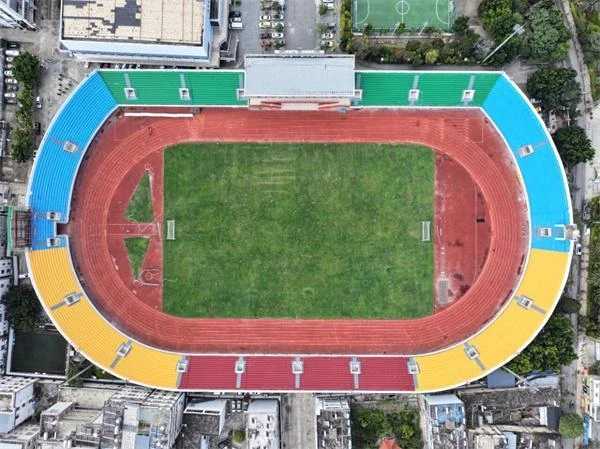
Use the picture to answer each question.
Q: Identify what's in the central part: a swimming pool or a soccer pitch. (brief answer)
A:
soccer pitch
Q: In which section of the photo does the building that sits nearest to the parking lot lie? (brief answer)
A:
top left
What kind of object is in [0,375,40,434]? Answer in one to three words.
building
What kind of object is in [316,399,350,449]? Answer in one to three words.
house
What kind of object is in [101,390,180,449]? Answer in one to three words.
building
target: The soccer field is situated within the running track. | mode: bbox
[163,141,434,319]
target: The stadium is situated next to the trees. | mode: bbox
[26,50,579,392]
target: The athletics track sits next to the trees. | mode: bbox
[54,107,530,354]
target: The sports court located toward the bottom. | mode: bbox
[7,326,72,377]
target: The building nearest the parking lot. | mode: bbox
[59,0,230,69]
